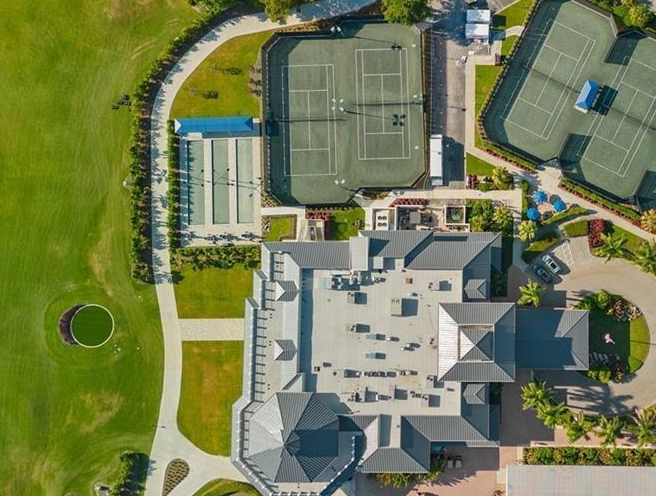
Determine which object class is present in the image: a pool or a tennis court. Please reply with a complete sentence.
The one in the frame is a tennis court.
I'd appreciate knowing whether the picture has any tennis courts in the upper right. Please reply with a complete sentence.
Yes, a tennis court is visible in the upper right.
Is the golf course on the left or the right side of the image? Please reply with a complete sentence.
The golf course is on the left side of the image.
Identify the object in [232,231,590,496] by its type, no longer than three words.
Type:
building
